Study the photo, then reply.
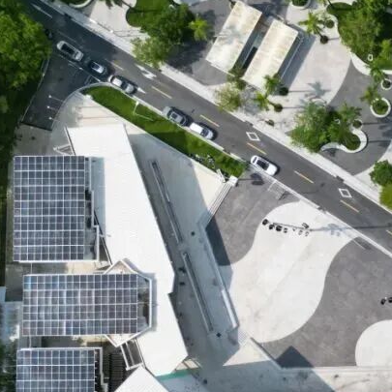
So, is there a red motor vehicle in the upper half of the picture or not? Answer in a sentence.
No, I can find no red motor vehicle in the upper half of the picture.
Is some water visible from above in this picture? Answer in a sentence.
No, water can't be seen anywhere here.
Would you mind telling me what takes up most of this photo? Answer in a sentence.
The largest share of the image is taken up by paved ground.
